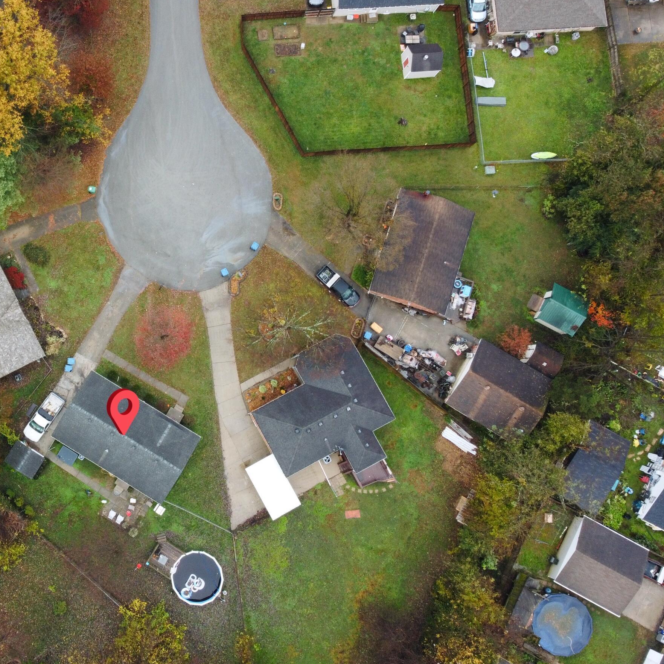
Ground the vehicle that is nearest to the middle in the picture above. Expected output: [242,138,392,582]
[311,260,362,312]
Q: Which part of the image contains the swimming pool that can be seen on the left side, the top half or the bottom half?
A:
bottom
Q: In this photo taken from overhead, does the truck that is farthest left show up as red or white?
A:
white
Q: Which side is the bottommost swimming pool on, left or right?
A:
right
